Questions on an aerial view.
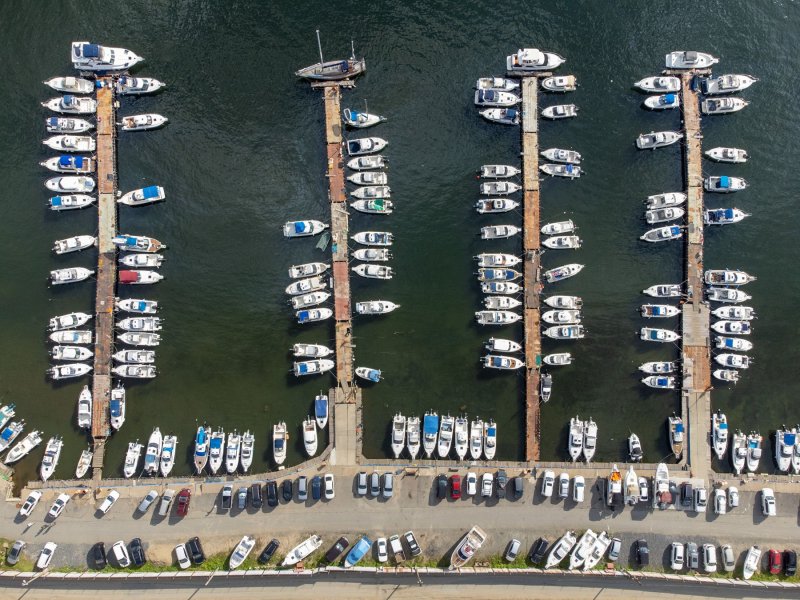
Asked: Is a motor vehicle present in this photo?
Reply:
Yes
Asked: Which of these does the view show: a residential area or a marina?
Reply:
marina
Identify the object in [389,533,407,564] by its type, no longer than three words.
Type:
vehicle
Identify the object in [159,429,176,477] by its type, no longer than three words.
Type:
boat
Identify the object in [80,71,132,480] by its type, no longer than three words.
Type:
pier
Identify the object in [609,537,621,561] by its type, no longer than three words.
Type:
vehicle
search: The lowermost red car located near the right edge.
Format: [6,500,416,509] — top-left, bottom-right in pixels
[768,548,781,573]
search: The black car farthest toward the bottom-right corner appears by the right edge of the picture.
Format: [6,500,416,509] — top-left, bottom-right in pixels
[783,548,798,577]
